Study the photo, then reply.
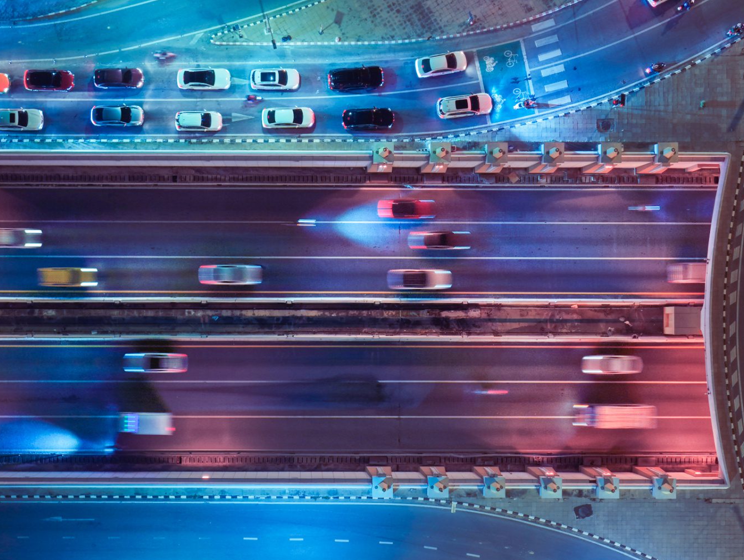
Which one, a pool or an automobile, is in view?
automobile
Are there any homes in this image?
No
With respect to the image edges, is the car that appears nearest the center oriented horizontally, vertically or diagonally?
horizontally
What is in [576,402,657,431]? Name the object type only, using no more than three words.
truck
